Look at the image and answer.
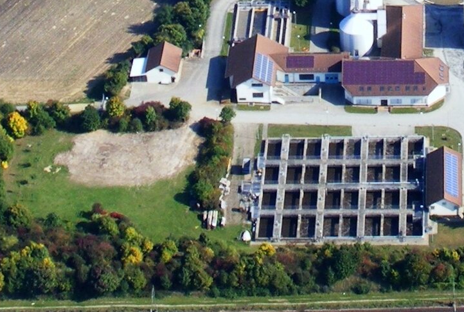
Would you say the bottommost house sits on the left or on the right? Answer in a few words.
right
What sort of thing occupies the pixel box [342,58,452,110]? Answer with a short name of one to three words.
building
